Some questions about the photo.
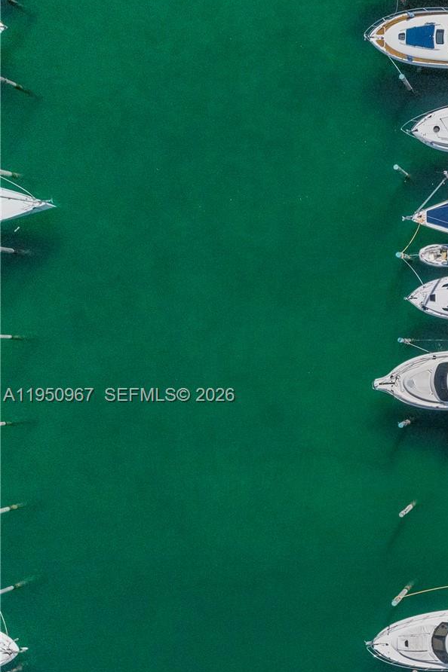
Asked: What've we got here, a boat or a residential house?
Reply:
boat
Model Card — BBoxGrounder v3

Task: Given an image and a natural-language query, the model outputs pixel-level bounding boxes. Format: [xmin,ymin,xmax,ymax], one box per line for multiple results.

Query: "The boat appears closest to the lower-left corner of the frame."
[0,631,28,668]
